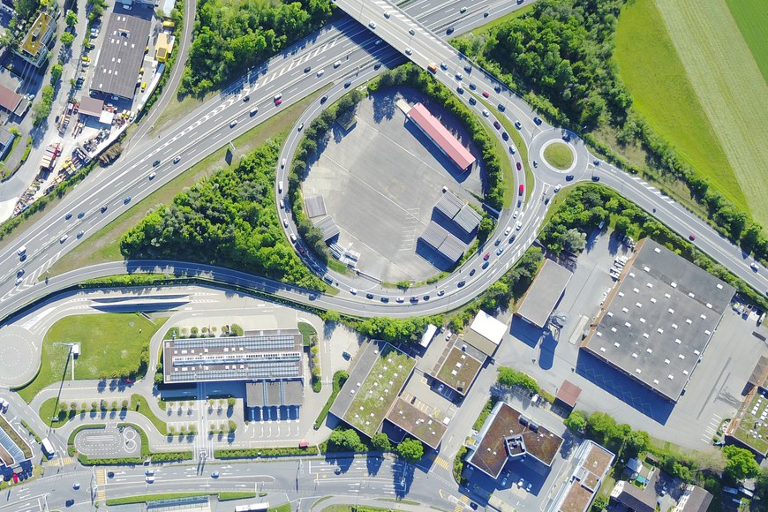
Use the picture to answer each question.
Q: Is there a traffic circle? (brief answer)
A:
Yes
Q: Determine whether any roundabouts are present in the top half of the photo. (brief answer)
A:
Yes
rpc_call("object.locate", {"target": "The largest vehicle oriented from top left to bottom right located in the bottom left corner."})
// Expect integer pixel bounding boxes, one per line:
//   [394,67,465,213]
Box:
[41,438,54,455]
